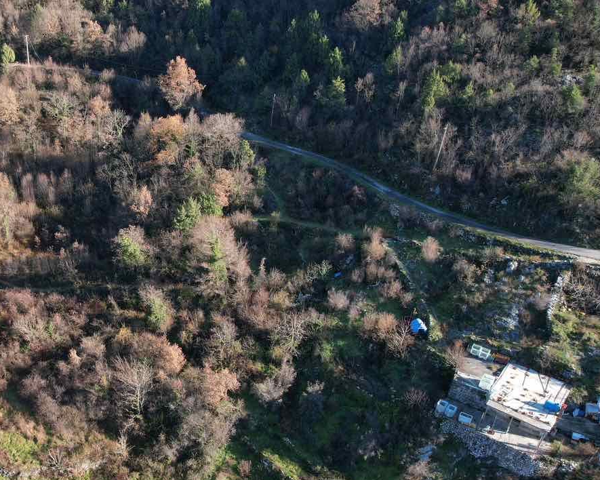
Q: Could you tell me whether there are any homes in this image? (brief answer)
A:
Yes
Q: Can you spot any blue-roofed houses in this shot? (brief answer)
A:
No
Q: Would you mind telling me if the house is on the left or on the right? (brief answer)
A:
right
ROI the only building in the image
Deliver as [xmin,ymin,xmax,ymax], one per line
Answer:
[478,363,572,455]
